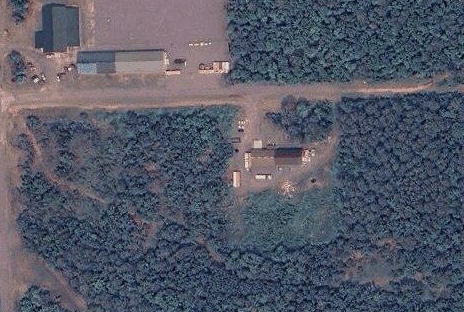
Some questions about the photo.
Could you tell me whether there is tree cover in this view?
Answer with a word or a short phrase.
Yes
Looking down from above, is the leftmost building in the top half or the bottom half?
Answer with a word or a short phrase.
top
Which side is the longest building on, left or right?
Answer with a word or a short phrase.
left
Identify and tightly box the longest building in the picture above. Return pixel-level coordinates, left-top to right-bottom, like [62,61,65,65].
[78,49,165,74]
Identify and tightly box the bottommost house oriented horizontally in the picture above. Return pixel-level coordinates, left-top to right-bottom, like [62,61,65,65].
[250,148,303,170]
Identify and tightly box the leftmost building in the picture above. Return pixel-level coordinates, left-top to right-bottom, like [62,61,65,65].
[35,4,79,51]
